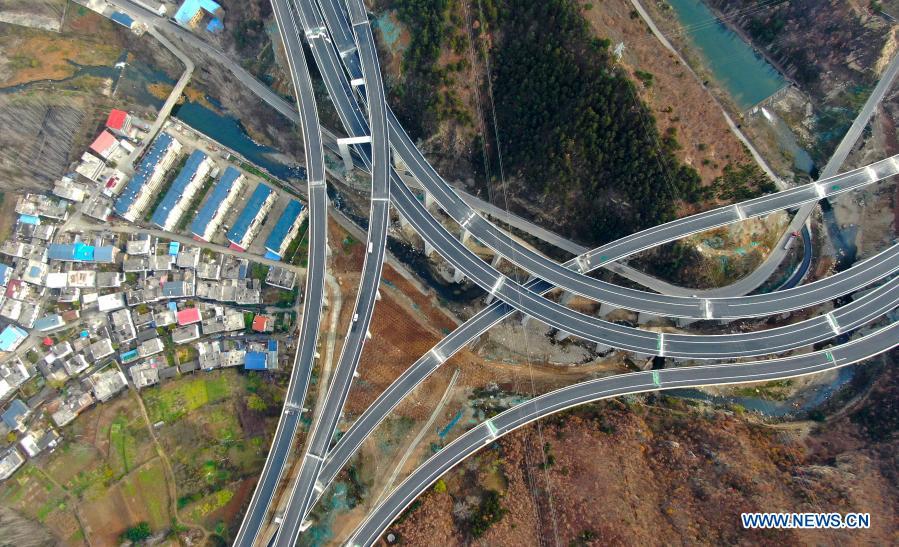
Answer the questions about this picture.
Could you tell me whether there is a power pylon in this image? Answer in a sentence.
Yes, I can see a power pylon in this picture.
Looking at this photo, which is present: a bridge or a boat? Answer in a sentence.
The one in the frame is a bridge.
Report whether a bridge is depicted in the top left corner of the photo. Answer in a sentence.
Yes, there is a bridge in the top left corner of the photo.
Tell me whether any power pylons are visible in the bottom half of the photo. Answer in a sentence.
No, there's no power pylon to be seen in the bottom half of the photo.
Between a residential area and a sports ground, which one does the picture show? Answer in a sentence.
It's a residential area.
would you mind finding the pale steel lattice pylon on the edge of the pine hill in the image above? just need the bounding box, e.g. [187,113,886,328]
[607,39,636,77]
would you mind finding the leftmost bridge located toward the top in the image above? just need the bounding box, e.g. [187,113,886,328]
[145,18,194,137]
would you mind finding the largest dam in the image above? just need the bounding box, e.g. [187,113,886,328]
[744,82,794,122]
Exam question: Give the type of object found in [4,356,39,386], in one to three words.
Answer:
house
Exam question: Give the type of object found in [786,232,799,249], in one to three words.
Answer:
vehicle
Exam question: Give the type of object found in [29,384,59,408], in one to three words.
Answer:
shed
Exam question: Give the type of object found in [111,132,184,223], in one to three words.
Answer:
building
